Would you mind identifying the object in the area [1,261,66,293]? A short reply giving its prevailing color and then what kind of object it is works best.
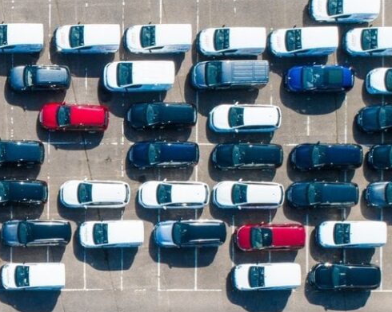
white van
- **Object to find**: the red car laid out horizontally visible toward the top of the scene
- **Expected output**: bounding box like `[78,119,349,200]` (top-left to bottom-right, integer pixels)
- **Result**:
[40,99,110,134]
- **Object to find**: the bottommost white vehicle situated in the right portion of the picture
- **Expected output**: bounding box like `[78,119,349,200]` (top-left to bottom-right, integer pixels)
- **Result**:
[230,261,301,295]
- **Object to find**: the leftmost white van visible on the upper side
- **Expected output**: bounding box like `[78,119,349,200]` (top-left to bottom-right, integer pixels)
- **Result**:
[0,23,44,55]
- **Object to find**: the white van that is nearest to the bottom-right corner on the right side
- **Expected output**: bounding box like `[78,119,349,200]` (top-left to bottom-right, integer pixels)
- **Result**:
[315,216,387,251]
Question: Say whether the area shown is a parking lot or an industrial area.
parking lot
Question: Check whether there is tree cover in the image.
No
